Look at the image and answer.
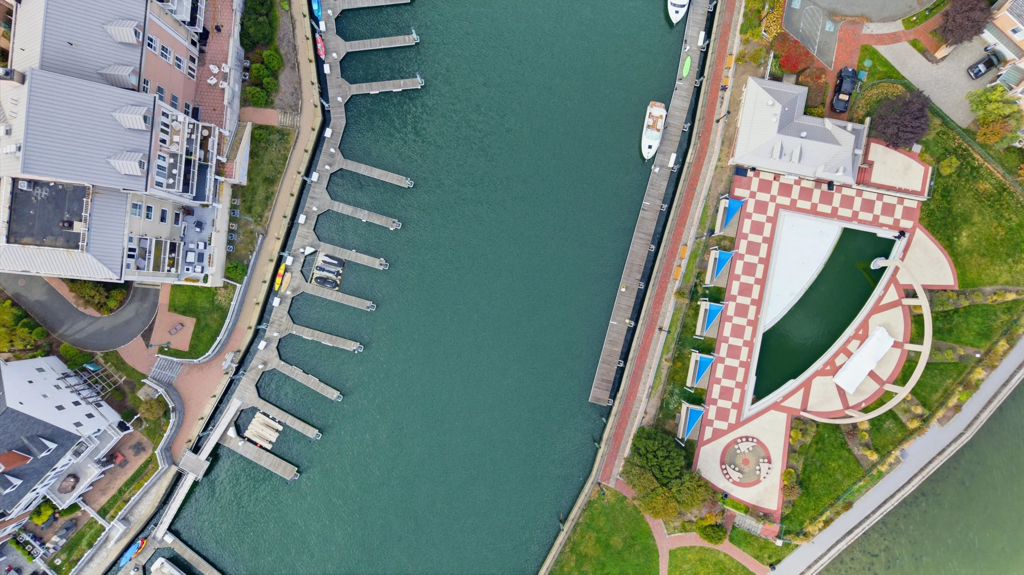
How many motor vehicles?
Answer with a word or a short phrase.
two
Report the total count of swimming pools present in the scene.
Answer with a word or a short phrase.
1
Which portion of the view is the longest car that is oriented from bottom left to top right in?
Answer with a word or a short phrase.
top right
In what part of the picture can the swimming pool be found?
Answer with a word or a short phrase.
right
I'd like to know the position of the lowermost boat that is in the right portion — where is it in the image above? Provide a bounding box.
[642,99,666,159]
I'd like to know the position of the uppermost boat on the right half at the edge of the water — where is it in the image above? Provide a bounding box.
[669,0,693,28]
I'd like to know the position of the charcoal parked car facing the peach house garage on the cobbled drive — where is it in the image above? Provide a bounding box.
[967,48,1005,82]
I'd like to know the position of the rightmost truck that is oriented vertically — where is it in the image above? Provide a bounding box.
[832,64,859,114]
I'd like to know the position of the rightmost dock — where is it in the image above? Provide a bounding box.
[588,0,708,406]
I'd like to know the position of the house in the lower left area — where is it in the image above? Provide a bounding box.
[0,356,137,555]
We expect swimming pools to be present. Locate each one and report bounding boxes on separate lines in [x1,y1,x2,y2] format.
[739,207,910,423]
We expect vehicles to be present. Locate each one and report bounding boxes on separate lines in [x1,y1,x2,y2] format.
[832,64,859,114]
[967,48,1005,82]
